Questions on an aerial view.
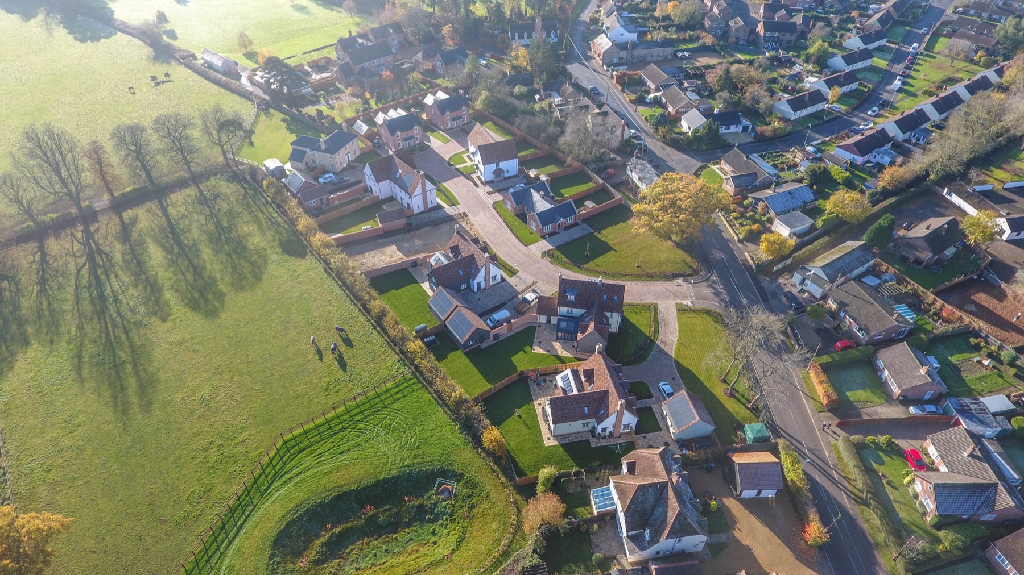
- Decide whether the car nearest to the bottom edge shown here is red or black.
red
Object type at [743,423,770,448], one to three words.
gazebo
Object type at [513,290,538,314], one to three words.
truck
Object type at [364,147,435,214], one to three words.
house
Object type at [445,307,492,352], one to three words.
building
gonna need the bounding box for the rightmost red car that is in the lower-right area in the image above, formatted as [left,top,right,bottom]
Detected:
[901,449,926,472]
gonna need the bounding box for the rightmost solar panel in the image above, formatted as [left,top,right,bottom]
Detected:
[666,395,695,429]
